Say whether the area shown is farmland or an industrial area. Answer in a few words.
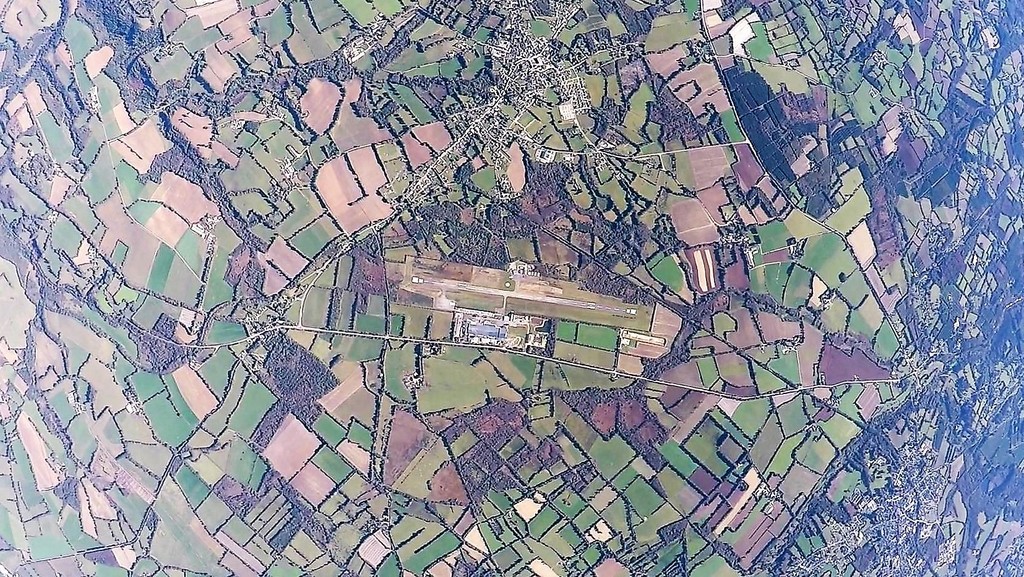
farmland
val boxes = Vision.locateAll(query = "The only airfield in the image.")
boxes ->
[402,256,656,335]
